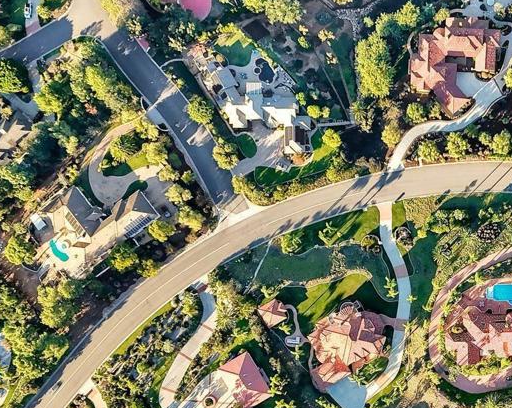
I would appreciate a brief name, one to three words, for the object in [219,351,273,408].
house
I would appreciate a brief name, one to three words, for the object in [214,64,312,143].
house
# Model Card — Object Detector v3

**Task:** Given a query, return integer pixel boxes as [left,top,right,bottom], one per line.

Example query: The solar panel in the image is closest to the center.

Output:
[127,207,152,228]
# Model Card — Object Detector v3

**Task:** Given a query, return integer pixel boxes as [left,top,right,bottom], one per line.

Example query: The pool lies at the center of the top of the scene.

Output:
[254,56,275,84]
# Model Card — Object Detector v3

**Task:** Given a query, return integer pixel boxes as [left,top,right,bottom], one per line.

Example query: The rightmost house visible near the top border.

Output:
[410,17,502,116]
